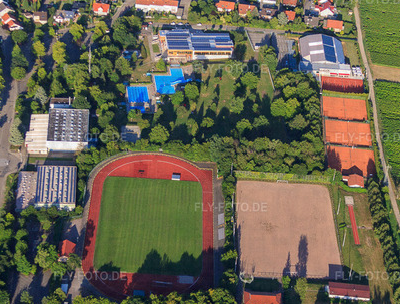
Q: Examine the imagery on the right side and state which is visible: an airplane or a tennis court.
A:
tennis court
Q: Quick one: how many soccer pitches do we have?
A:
2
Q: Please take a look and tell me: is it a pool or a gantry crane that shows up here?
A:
pool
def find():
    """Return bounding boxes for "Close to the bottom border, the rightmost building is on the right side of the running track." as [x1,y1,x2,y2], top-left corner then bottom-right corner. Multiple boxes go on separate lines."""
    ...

[325,283,371,302]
